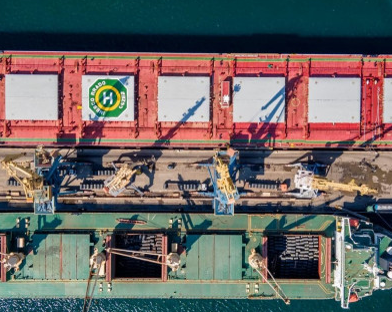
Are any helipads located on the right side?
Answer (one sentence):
No, no helipad appears on the right side.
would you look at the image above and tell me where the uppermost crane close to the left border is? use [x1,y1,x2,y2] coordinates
[0,150,75,213]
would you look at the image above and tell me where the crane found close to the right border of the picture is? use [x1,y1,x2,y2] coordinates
[280,162,380,196]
